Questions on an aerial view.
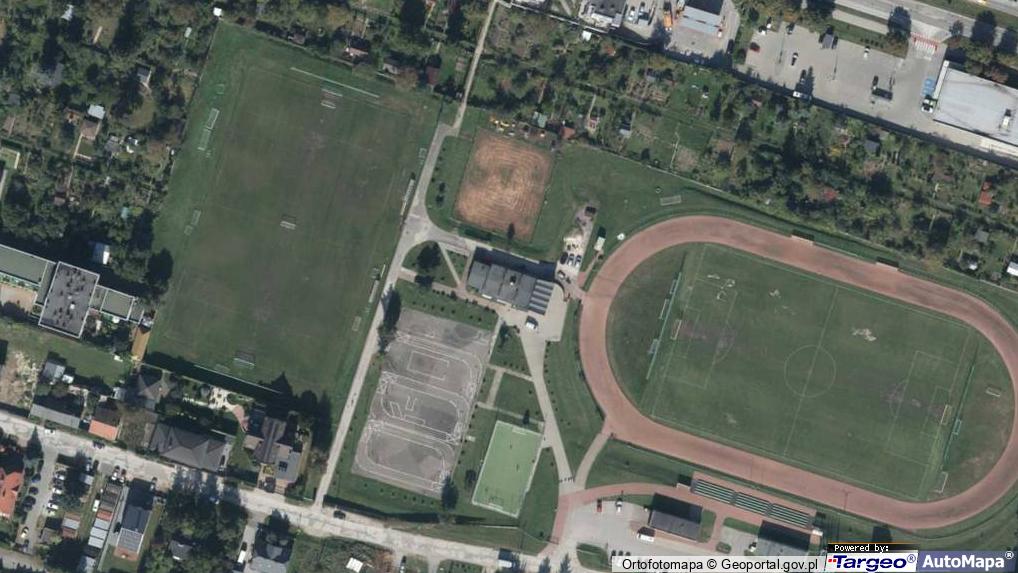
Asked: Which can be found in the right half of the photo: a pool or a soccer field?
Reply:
soccer field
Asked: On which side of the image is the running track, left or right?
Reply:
right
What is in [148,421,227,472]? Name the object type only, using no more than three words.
house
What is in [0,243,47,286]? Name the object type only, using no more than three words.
building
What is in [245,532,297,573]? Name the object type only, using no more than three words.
house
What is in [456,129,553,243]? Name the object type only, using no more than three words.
sports field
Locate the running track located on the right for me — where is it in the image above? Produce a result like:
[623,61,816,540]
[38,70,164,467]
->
[580,216,1018,526]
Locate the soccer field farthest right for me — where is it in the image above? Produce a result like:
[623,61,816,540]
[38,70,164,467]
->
[606,242,1016,499]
